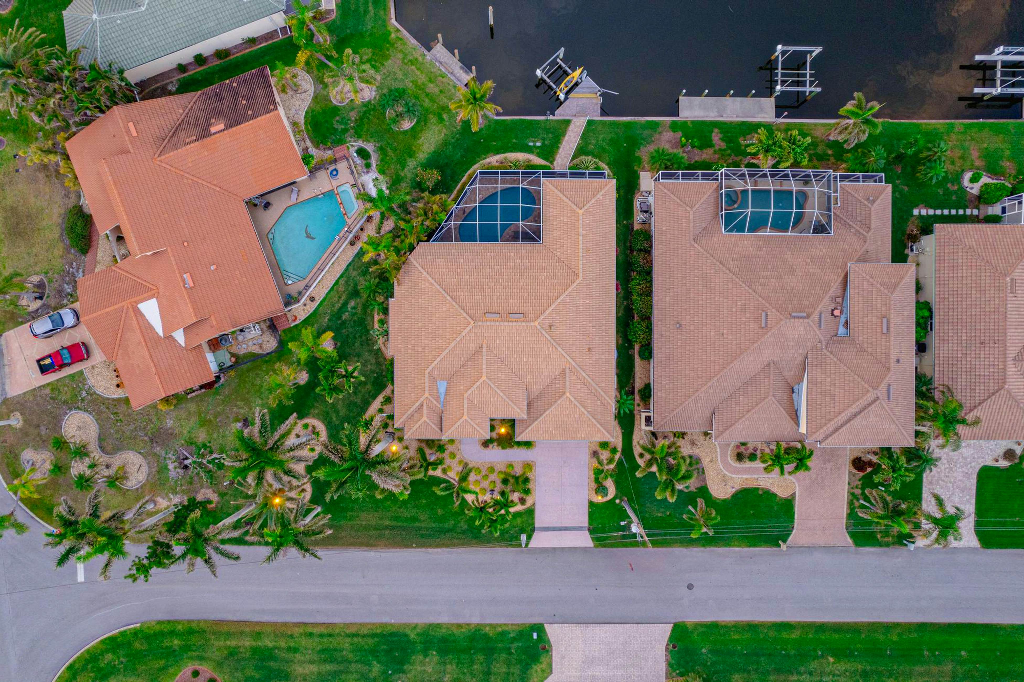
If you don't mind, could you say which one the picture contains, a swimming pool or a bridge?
swimming pool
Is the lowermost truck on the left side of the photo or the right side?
left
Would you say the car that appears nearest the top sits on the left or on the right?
left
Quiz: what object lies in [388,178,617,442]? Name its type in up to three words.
house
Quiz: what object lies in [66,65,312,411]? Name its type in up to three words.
house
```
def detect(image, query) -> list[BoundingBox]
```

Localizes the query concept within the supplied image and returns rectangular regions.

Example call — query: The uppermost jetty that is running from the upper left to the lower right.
[430,43,474,85]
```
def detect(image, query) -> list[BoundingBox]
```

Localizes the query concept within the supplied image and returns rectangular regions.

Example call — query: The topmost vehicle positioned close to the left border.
[23,307,78,338]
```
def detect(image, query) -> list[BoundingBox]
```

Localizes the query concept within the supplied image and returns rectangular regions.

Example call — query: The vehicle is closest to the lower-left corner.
[28,343,88,378]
